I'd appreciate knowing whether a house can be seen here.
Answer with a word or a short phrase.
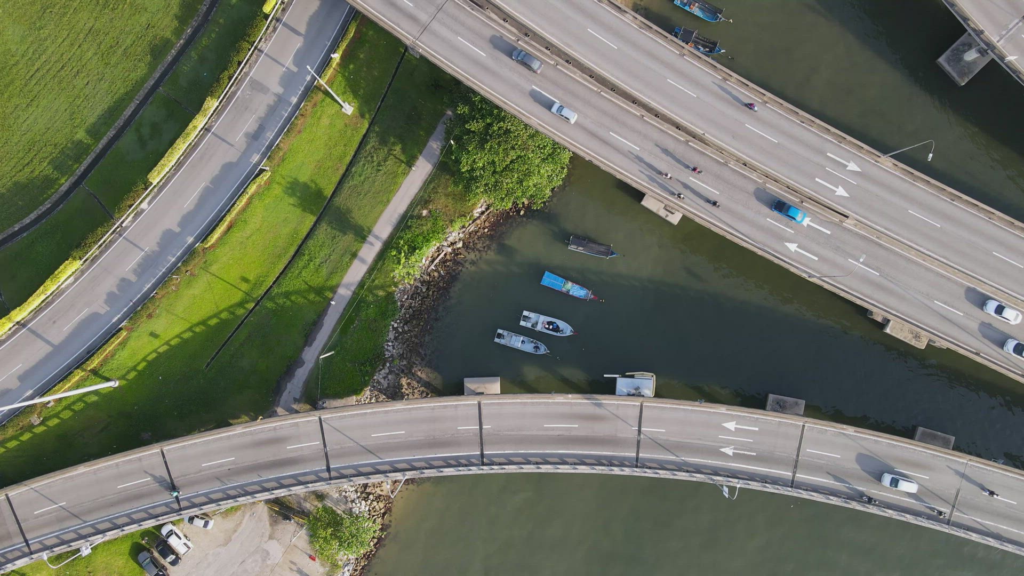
No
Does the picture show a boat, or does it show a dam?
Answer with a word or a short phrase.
boat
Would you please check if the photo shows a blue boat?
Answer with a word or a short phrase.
Yes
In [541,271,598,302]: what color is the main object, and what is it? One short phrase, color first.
blue boat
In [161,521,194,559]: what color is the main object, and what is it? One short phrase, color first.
white truck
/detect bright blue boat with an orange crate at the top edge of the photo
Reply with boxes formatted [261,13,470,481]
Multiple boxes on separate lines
[673,0,726,26]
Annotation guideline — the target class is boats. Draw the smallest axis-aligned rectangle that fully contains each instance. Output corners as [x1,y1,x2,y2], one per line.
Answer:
[567,237,617,261]
[673,0,726,26]
[672,25,725,54]
[541,271,598,302]
[518,311,576,335]
[494,330,550,354]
